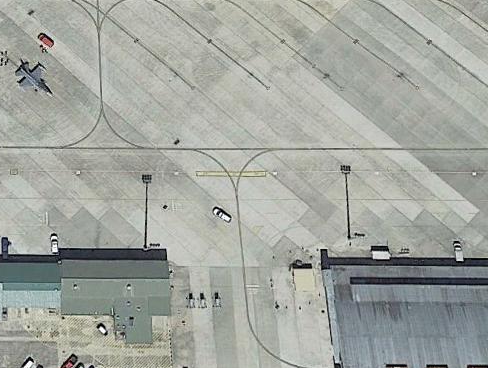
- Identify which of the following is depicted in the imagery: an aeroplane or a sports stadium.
aeroplane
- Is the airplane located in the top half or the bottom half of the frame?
top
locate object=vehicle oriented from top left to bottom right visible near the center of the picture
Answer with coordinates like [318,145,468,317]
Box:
[212,208,231,223]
